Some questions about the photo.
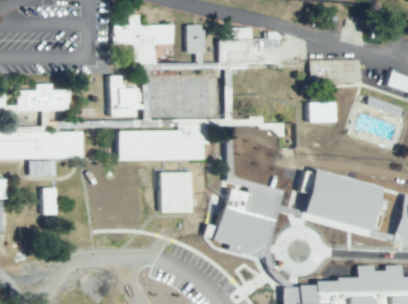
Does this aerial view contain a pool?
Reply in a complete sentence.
Yes, looking at the shot, I can spot a pool.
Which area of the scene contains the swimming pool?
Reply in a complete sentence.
You can find the swimming pool in the right area of the picture.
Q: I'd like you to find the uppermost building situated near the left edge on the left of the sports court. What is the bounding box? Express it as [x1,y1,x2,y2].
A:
[0,83,84,160]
